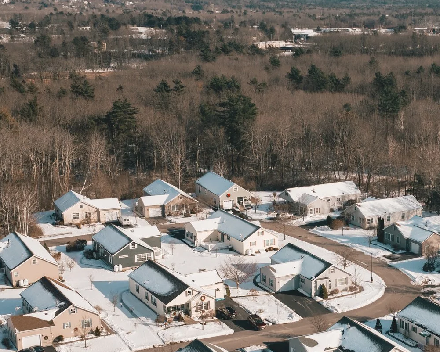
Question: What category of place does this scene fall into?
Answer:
residential area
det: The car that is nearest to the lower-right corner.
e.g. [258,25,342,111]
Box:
[246,310,263,327]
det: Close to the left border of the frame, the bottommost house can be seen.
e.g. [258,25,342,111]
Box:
[6,276,102,350]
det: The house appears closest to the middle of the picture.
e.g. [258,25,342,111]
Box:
[193,172,249,209]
